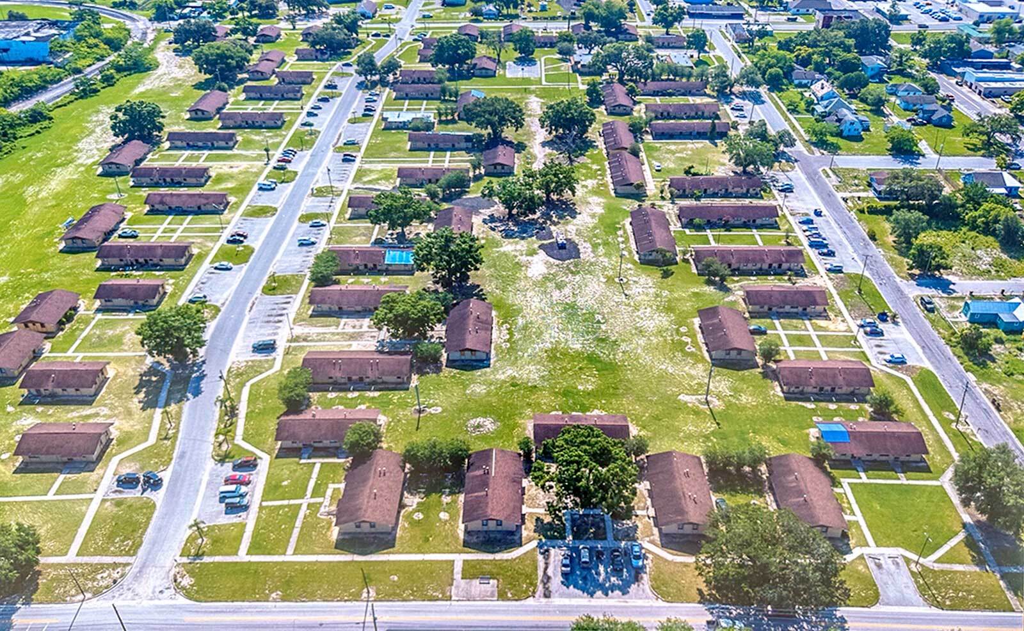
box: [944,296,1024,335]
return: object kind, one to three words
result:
house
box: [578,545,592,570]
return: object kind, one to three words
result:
car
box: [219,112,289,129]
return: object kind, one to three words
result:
building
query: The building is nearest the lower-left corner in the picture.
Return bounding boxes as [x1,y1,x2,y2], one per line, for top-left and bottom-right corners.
[13,422,114,469]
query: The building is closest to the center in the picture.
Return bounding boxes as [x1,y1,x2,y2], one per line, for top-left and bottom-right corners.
[444,299,495,361]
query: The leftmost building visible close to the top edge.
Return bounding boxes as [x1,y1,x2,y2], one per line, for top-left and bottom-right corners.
[0,20,75,60]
